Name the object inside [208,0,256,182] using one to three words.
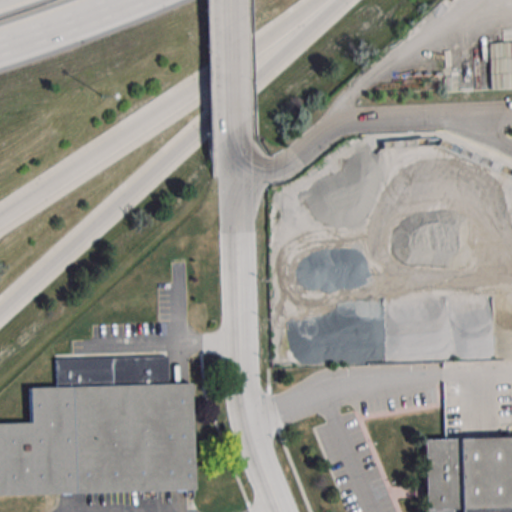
overpass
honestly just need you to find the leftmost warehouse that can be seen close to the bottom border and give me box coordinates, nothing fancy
[0,384,197,497]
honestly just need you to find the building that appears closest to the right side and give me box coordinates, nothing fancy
[460,436,512,512]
